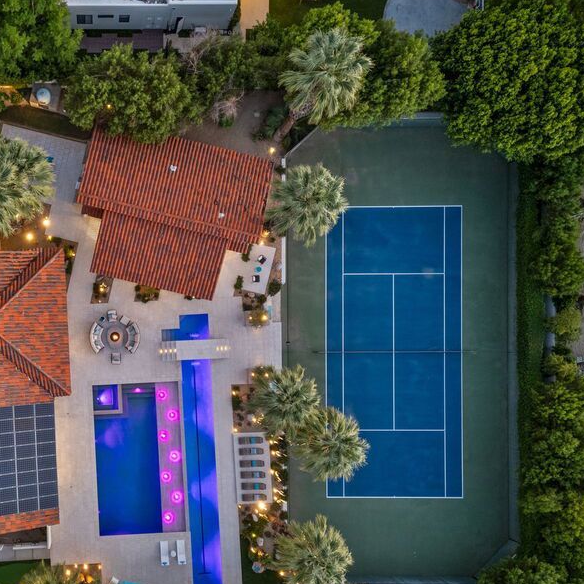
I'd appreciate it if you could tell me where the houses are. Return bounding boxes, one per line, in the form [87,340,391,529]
[71,0,239,40]
[77,126,277,300]
[0,247,72,534]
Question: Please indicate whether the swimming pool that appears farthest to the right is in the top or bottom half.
bottom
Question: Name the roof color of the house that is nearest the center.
red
